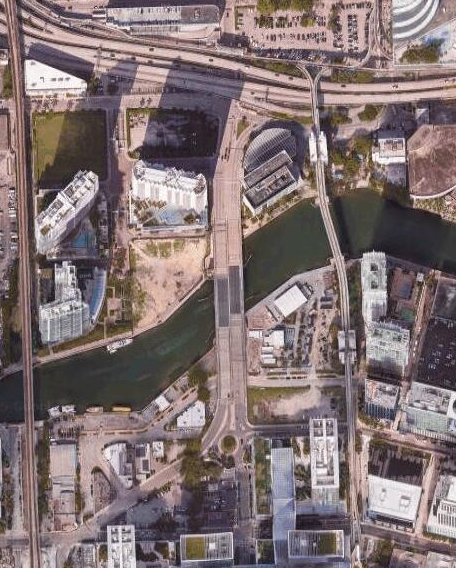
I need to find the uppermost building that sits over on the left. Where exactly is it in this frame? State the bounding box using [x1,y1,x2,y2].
[99,5,221,43]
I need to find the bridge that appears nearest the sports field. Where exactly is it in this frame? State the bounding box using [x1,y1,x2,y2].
[7,0,40,568]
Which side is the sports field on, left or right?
left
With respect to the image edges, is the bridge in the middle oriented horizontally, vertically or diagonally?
vertically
